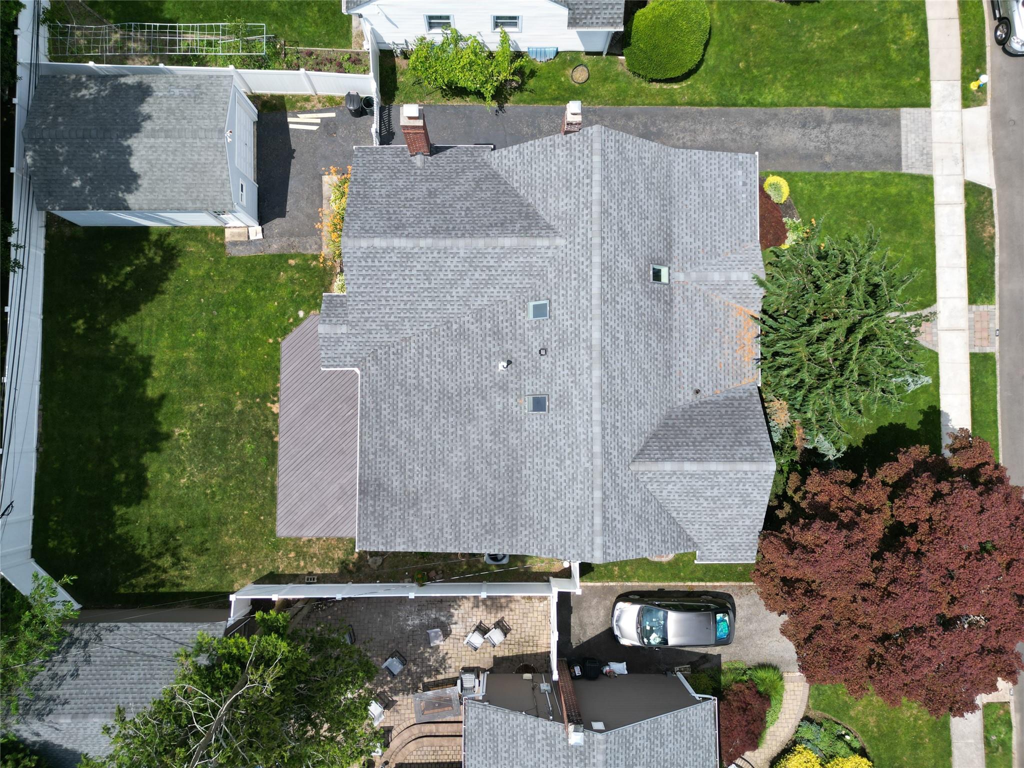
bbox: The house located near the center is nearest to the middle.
[320,99,776,565]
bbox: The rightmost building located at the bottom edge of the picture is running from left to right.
[461,659,724,768]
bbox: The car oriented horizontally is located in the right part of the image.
[610,594,738,654]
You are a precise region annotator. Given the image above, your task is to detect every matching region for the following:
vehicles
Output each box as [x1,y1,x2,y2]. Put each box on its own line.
[990,0,1024,62]
[610,594,738,654]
